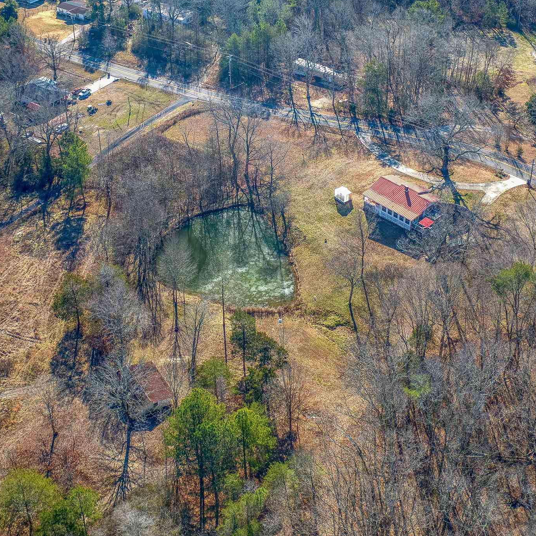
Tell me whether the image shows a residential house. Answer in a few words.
Yes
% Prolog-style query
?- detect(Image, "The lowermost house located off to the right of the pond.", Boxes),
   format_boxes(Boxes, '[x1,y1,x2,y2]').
[365,177,451,243]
